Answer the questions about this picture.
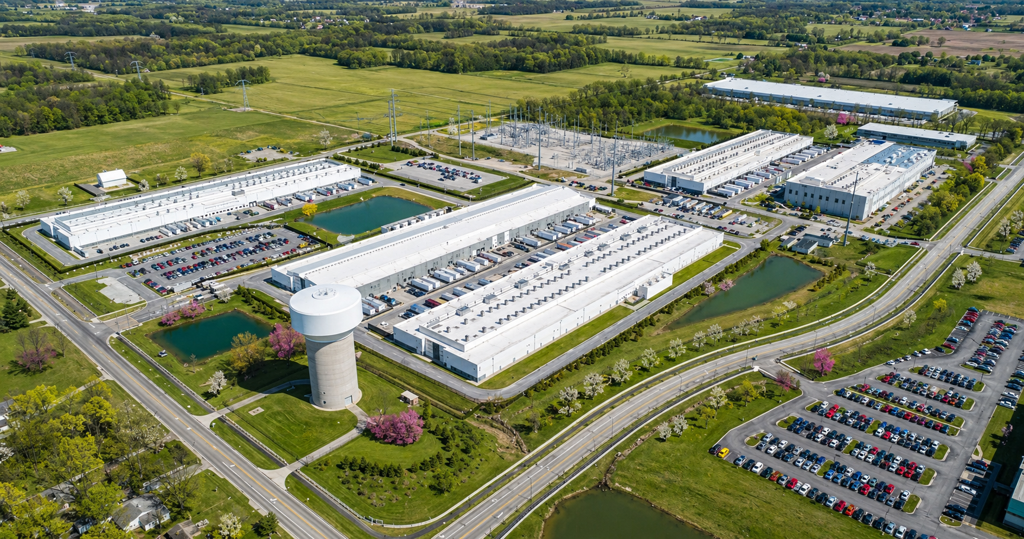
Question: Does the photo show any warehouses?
Yes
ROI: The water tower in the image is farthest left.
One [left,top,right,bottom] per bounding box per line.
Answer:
[288,285,365,410]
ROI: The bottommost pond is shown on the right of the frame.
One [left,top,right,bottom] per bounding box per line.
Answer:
[542,486,705,539]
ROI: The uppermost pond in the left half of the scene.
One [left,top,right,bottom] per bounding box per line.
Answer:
[303,196,432,235]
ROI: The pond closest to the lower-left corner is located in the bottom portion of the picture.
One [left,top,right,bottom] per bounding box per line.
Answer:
[153,312,272,361]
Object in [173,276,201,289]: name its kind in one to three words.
vehicle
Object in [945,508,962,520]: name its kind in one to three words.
vehicle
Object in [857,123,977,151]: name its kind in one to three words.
building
